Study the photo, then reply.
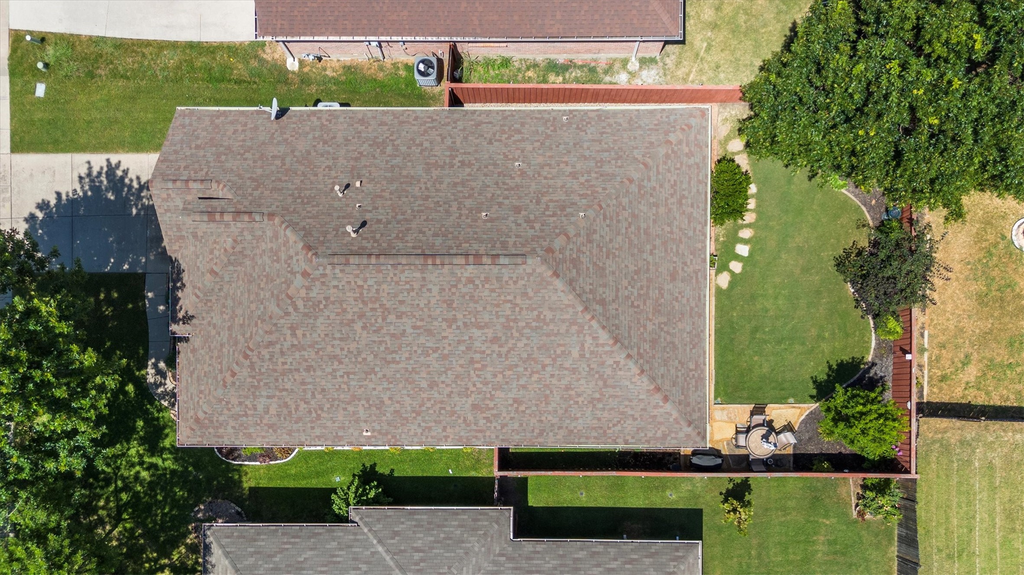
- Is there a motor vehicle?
No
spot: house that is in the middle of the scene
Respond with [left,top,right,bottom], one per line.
[148,107,711,446]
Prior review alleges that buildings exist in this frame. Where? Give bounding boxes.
[148,107,711,446]
[203,507,702,575]
[251,0,683,63]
